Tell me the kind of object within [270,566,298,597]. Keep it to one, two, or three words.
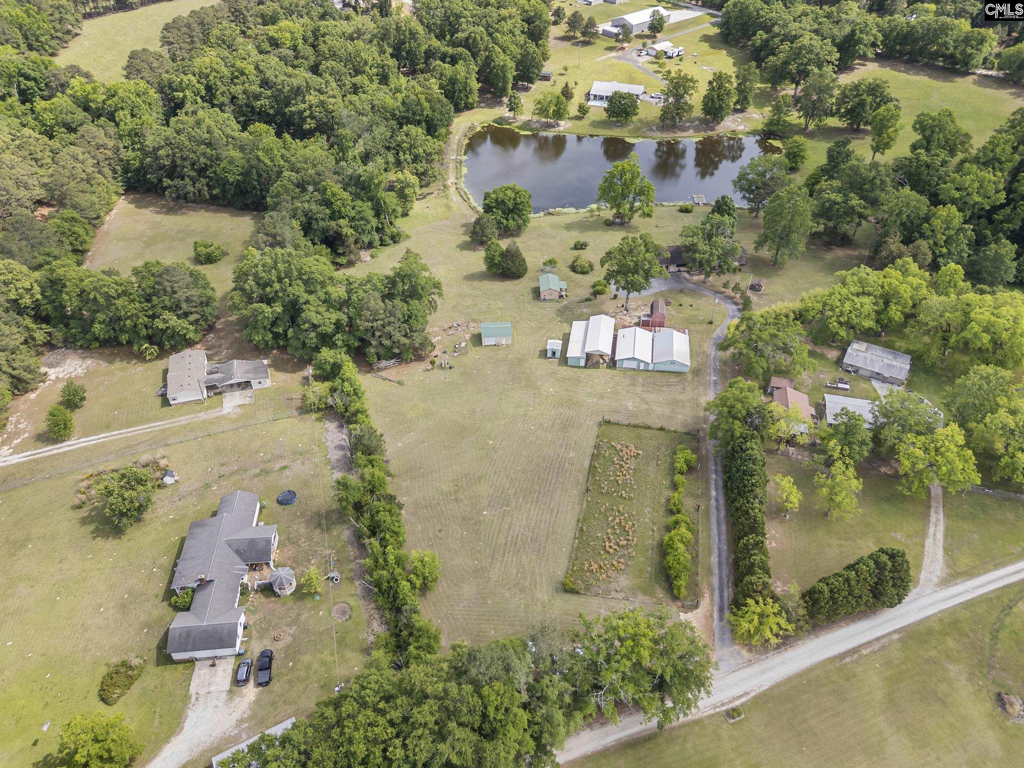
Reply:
gazebo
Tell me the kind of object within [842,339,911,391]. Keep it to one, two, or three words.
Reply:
house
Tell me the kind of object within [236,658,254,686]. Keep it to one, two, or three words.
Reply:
car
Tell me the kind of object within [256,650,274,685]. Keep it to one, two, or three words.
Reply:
vehicle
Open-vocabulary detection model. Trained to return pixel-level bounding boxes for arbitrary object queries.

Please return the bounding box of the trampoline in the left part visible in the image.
[277,488,296,504]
